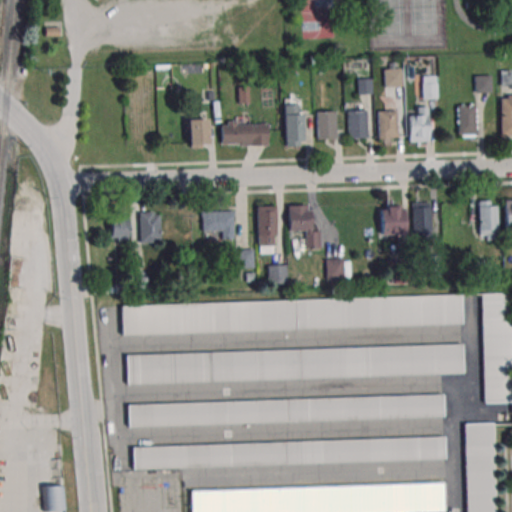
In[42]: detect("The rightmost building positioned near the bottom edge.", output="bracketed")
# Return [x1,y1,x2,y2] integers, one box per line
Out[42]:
[464,422,498,512]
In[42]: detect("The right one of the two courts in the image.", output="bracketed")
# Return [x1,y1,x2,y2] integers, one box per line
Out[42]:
[372,0,446,48]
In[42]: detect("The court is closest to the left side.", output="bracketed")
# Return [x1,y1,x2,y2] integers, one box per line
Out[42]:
[304,0,335,41]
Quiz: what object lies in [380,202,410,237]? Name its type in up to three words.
house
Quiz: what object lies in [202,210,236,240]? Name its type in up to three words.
house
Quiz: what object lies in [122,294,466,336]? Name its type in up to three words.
building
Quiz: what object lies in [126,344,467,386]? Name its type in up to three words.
building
